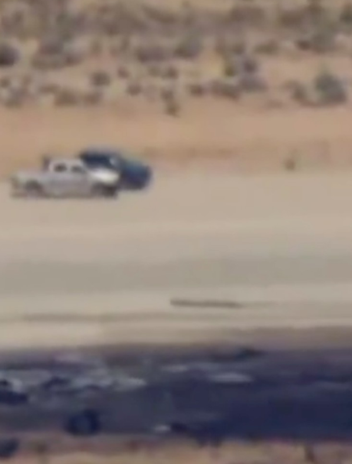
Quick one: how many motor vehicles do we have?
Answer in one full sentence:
Altogether the scene contains 2 motor vehicles.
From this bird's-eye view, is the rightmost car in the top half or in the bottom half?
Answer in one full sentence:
Seen from above, the rightmost car lies in the top half of the view.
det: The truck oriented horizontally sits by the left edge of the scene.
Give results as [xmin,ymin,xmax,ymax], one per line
[8,157,121,197]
